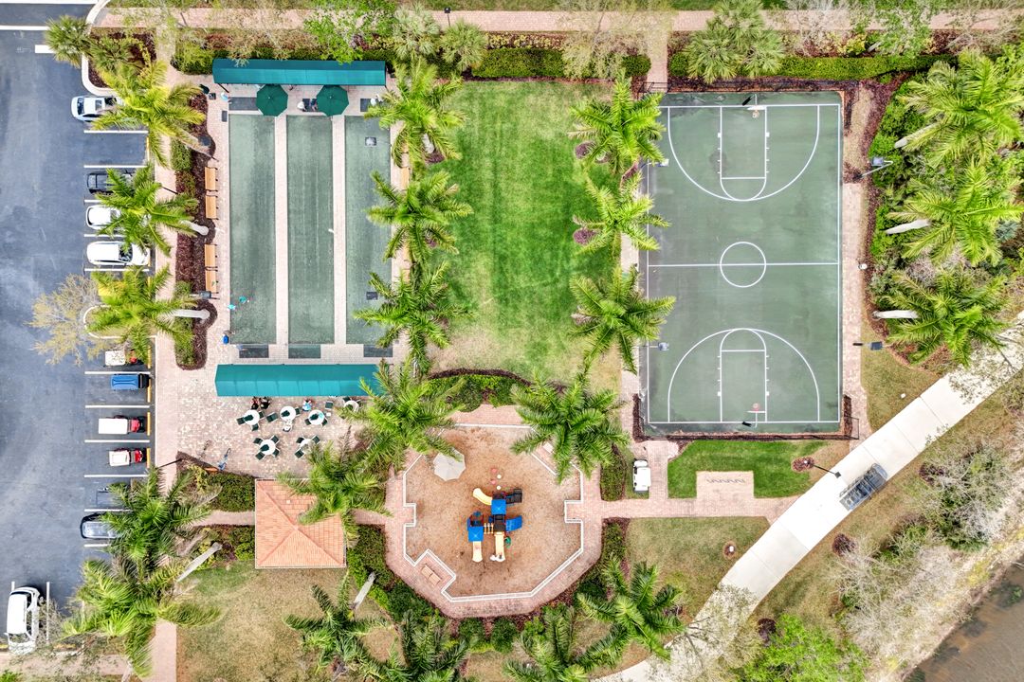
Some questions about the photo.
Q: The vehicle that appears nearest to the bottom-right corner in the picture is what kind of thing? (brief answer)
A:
car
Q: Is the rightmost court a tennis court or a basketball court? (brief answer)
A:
basketball court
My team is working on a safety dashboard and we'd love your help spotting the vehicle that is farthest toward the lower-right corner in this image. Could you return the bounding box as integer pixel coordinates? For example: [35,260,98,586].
[835,461,890,510]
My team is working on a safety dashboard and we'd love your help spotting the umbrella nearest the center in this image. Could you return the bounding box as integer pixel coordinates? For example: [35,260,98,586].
[435,449,466,480]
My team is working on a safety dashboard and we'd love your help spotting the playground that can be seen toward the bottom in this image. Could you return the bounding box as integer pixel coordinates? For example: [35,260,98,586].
[401,423,584,604]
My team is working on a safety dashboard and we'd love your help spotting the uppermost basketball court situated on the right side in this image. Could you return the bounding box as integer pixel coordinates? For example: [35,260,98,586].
[638,92,843,437]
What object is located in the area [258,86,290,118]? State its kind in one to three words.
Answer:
umbrella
